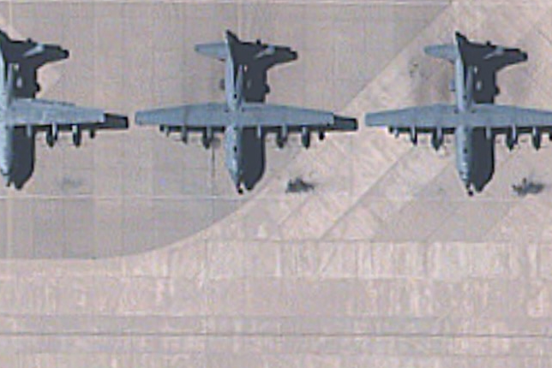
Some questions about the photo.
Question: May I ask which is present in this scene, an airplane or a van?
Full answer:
Of the two, only an airplane appears.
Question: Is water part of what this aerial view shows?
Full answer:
No, water can't be seen anywhere here.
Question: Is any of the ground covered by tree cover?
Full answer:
No, no tree cover is visible.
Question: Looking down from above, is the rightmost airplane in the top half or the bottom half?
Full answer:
The top half of the photo is where the rightmost airplane is.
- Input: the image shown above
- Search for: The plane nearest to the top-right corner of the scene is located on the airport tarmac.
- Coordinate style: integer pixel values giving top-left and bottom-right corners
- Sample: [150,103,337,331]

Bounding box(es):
[365,30,552,194]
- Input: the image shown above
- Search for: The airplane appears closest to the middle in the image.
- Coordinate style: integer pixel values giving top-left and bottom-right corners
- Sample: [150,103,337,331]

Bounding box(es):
[134,29,333,193]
